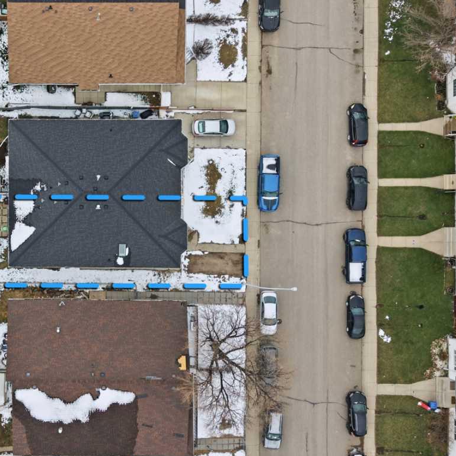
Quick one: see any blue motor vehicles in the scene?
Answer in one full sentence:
Yes, the picture does show a blue motor vehicle.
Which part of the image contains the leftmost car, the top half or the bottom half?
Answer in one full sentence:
Seen from above, the leftmost car lies in the top half of the view.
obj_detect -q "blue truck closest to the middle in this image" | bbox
[257,153,282,212]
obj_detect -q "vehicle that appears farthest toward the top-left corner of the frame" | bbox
[192,117,236,138]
